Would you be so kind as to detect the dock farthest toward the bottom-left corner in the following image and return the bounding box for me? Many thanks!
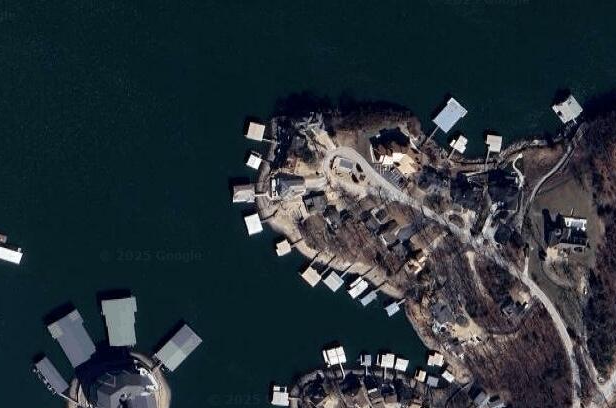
[36,356,78,402]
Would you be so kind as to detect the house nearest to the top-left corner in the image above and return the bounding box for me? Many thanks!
[276,173,309,201]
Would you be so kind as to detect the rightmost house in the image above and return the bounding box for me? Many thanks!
[551,224,587,251]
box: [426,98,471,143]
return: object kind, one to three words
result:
pier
